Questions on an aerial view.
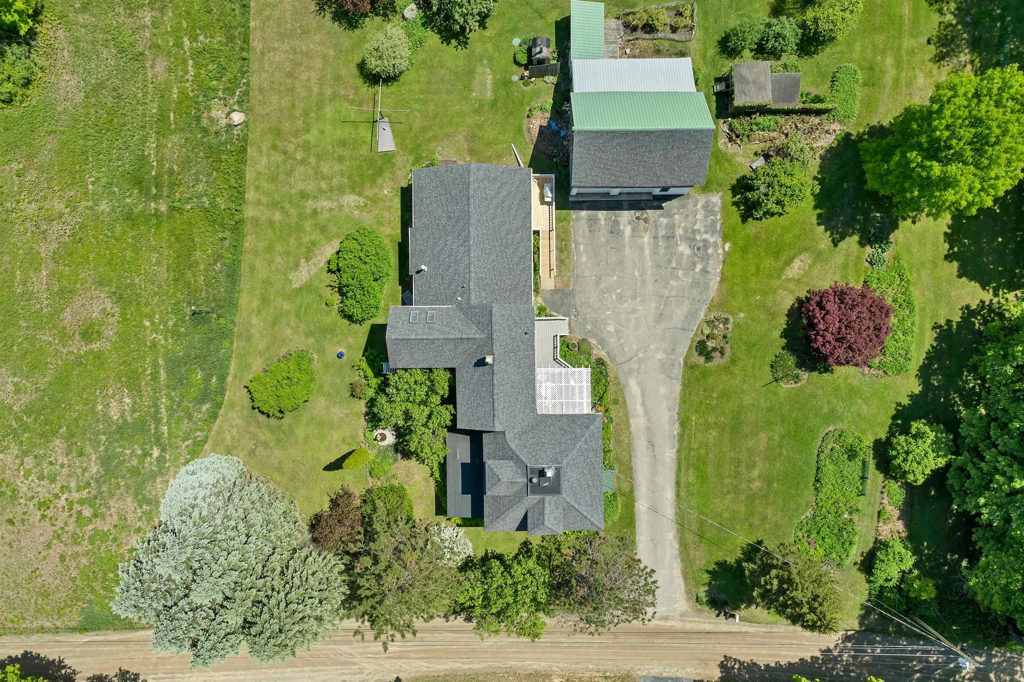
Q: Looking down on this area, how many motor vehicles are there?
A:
none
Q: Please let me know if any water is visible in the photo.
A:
No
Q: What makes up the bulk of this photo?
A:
grass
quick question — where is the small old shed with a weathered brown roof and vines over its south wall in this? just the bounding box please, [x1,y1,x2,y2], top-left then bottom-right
[726,59,801,110]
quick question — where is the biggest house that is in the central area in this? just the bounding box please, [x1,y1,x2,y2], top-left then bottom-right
[385,163,615,536]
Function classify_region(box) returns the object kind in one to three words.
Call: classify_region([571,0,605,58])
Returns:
shed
